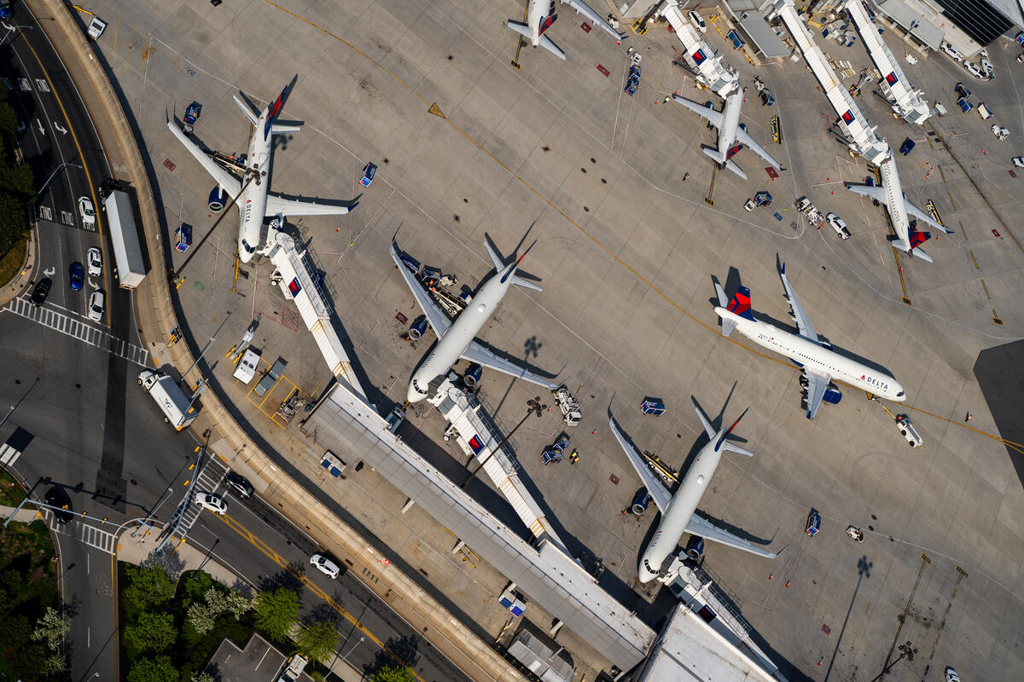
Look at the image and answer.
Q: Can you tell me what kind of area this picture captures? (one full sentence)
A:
This image shows an airport.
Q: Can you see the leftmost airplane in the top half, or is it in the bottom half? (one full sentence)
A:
The top half of the photo is where the leftmost airplane is.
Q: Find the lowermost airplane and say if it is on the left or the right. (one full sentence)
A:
It is on the right.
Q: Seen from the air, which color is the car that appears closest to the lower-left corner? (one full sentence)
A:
The color of the car that appears closest to the lower-left corner is black.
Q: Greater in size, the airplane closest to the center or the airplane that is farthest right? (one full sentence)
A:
Compared with the airplane that is farthest right, the airplane closest to the center is the bigger one.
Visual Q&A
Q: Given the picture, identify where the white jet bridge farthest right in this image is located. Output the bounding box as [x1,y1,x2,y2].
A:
[833,0,927,130]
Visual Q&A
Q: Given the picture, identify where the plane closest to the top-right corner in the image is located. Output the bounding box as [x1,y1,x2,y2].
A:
[846,150,959,262]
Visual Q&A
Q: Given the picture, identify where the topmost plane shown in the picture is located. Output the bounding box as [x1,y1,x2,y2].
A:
[509,0,631,58]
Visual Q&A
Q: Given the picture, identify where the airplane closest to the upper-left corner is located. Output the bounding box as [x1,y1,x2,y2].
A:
[161,85,363,264]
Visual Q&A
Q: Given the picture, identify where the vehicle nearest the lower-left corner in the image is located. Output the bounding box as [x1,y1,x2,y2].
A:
[46,487,70,521]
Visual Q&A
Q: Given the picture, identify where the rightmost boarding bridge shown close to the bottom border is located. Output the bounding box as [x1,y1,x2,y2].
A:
[657,556,795,682]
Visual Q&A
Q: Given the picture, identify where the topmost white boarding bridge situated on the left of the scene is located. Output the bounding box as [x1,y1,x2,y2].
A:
[257,228,377,408]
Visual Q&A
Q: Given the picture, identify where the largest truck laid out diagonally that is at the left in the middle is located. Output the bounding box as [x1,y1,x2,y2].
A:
[138,375,205,436]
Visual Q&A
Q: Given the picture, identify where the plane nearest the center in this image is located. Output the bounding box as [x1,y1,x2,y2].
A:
[388,231,570,404]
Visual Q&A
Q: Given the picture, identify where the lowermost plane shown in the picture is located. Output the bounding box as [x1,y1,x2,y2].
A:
[607,406,789,585]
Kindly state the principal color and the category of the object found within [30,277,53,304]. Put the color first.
black car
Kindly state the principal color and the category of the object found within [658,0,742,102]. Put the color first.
white jet bridge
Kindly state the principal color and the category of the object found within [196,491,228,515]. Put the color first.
white car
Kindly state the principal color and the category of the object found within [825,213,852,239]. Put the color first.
white truck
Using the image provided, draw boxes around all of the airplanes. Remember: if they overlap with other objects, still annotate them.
[846,150,959,262]
[713,262,908,420]
[607,406,789,585]
[388,231,570,404]
[161,85,363,264]
[673,82,790,178]
[509,0,631,58]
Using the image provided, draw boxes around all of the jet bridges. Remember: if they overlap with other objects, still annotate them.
[657,556,795,682]
[658,0,742,102]
[257,228,377,408]
[428,377,589,566]
[779,0,886,165]
[833,0,927,130]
